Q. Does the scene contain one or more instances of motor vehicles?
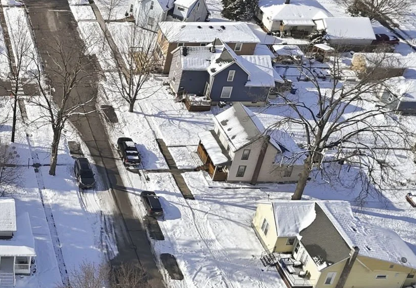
Yes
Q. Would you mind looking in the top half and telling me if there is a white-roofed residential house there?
Yes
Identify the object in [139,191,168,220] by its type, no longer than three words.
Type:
car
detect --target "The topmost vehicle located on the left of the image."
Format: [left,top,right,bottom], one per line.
[117,139,147,170]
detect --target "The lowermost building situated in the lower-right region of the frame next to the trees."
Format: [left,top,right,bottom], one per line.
[250,187,415,288]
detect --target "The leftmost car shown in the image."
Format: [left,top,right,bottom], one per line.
[72,157,101,191]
